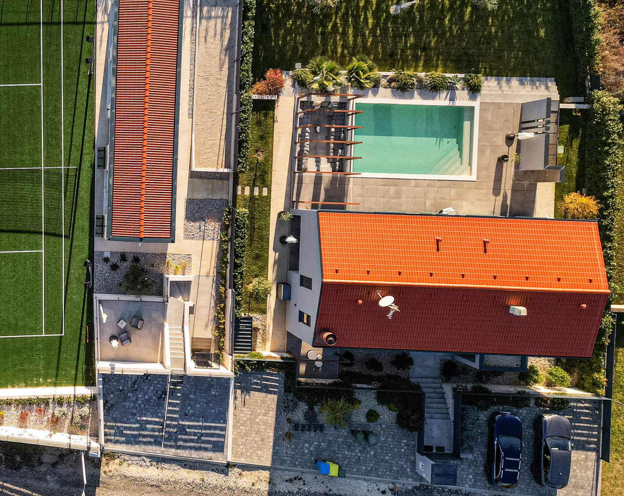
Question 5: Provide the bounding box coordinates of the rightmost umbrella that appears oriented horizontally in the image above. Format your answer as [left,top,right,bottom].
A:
[505,130,535,142]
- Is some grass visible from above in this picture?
Yes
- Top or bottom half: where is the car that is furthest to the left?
bottom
